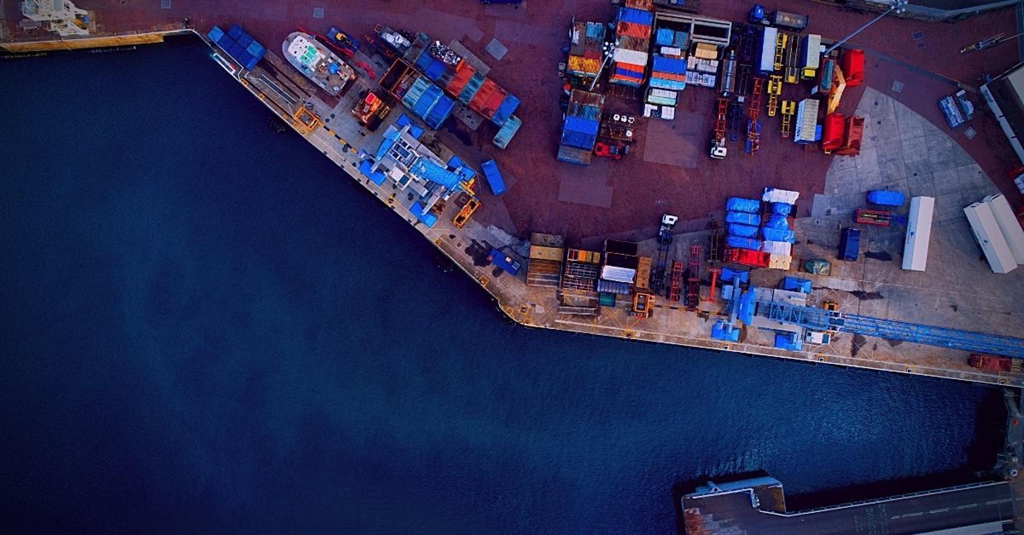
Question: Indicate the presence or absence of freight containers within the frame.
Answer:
Yes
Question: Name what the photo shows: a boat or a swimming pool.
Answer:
boat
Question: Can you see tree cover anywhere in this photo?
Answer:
No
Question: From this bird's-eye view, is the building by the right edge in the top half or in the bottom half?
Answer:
top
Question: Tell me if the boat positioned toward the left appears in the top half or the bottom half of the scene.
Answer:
top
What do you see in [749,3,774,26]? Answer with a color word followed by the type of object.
blue truck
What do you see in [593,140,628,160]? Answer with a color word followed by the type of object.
red vehicle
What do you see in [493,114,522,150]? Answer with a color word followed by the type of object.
blue shipping container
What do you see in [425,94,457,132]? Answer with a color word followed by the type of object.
blue shipping container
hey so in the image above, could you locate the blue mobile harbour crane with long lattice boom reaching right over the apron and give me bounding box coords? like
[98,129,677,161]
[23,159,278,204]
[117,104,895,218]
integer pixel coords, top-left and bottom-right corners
[710,266,1024,360]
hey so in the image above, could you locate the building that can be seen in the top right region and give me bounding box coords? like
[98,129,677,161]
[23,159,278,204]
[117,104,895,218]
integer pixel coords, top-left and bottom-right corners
[973,70,1024,169]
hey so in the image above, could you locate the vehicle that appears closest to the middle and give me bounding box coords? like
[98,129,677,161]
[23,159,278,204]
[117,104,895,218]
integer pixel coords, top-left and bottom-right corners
[486,247,523,277]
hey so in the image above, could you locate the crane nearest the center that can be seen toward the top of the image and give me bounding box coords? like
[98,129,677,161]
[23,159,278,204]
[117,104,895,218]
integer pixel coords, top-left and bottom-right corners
[358,113,477,229]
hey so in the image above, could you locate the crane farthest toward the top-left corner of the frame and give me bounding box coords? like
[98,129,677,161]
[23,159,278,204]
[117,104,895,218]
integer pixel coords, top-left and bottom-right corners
[22,0,98,41]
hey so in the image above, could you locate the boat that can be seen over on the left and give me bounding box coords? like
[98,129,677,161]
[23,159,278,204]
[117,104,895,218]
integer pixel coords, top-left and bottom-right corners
[282,31,356,95]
